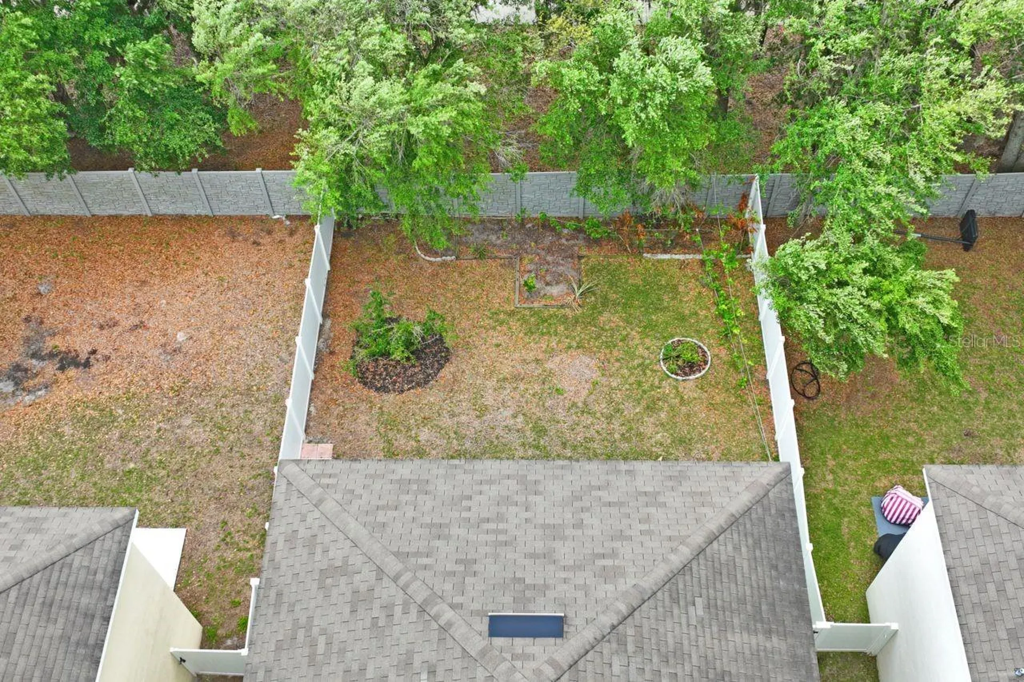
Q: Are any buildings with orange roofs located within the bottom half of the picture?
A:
No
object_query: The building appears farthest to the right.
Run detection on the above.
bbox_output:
[867,462,1024,682]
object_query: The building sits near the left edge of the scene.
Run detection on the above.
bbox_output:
[0,505,198,682]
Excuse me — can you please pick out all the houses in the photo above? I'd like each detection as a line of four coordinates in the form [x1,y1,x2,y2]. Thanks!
[867,462,1024,682]
[243,457,822,682]
[0,505,198,682]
